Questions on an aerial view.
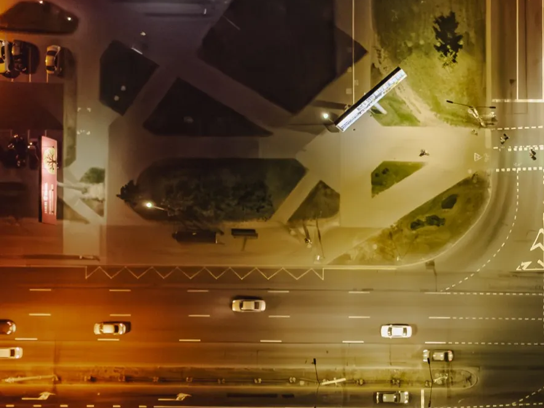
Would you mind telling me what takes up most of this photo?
paved ground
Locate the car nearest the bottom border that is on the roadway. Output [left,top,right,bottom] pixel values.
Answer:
[376,389,410,406]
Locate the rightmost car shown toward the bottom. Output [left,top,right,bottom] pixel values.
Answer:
[424,347,458,364]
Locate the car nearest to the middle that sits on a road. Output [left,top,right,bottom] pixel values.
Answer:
[232,296,267,312]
